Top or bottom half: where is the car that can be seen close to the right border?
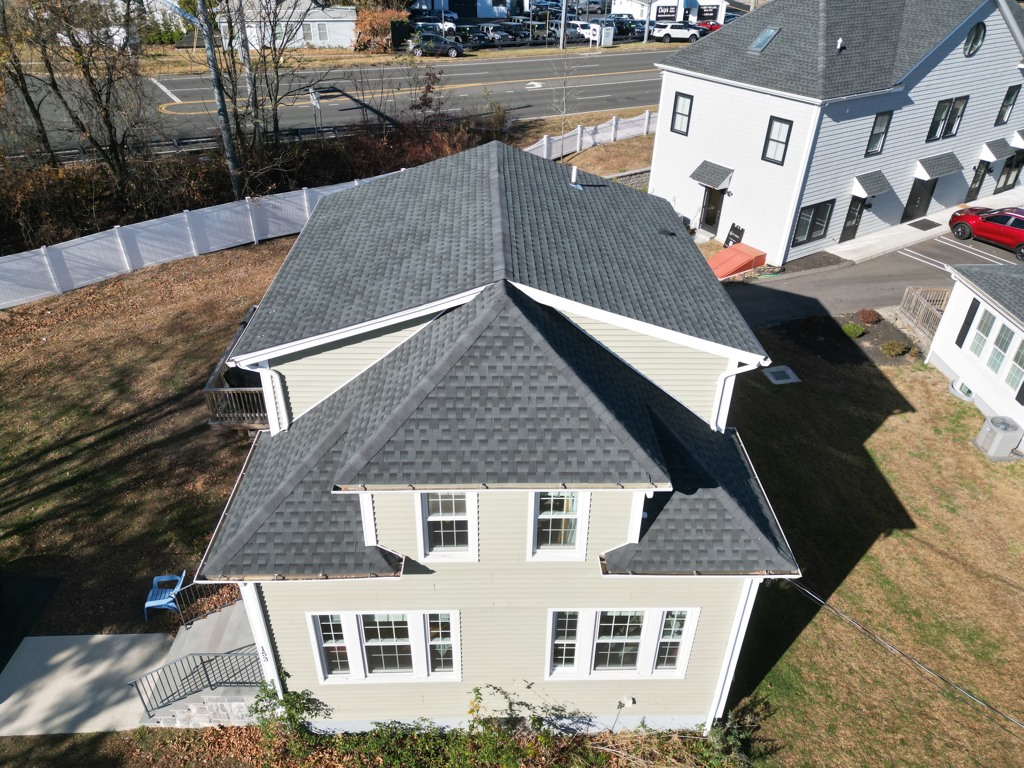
top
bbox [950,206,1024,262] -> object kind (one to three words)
car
